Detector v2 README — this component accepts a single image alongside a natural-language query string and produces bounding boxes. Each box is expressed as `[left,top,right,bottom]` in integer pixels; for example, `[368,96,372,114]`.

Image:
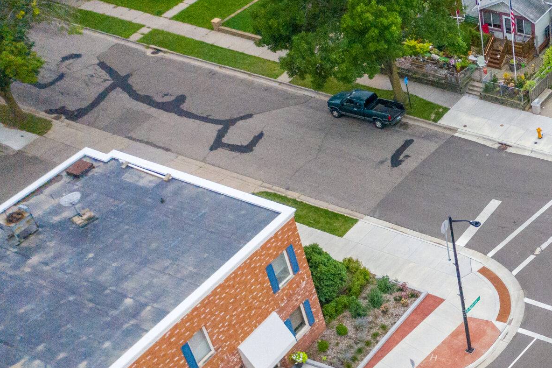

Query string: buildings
[0,147,323,368]
[461,0,552,63]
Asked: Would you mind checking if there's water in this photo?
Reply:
No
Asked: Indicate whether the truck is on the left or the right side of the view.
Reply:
right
